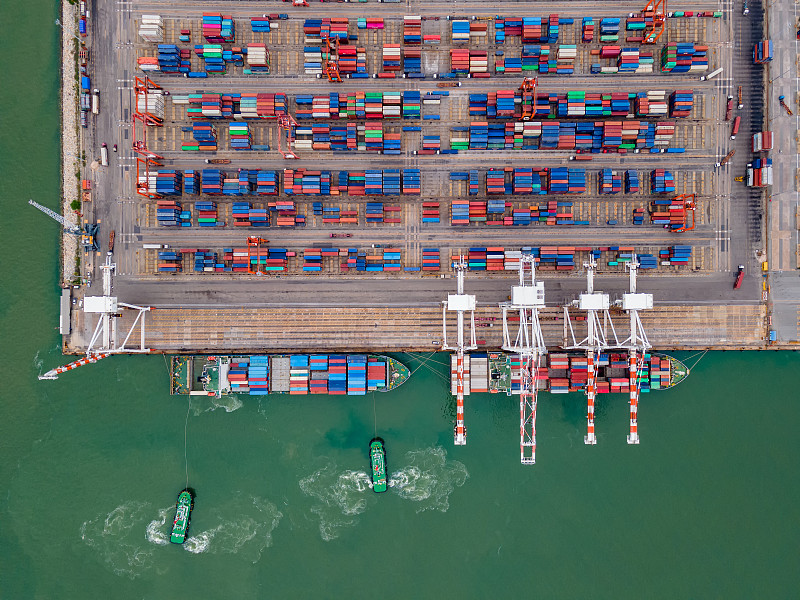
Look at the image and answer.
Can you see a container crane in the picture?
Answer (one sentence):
Yes, this view includes a container crane.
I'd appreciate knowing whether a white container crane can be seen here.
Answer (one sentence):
Yes, a white container crane appears in the view.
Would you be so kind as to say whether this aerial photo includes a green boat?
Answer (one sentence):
Yes, there's a green boat here.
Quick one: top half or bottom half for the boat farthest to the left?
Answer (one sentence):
The boat farthest to the left sits in the bottom half of the picture.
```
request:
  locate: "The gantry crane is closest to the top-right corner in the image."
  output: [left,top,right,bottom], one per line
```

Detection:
[637,0,665,45]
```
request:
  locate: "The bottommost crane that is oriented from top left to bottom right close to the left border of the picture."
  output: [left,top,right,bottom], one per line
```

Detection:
[28,200,102,256]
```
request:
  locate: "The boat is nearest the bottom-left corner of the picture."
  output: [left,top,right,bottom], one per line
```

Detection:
[170,488,194,545]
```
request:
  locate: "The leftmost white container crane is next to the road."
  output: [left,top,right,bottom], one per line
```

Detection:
[49,251,147,380]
